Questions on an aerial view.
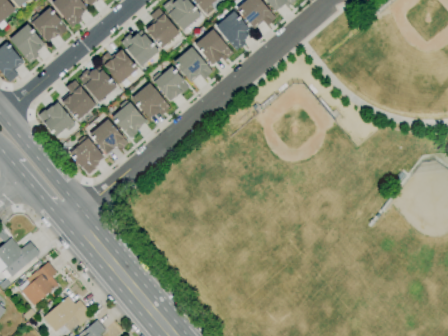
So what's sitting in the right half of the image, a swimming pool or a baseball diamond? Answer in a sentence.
It is a baseball diamond that can be seen in the right half of the image.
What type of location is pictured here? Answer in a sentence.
This image shows a residential area.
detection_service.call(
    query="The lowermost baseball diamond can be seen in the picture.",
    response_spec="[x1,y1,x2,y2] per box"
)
[396,159,448,236]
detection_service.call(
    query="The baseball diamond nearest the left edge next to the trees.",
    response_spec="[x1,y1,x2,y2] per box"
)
[258,82,336,162]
